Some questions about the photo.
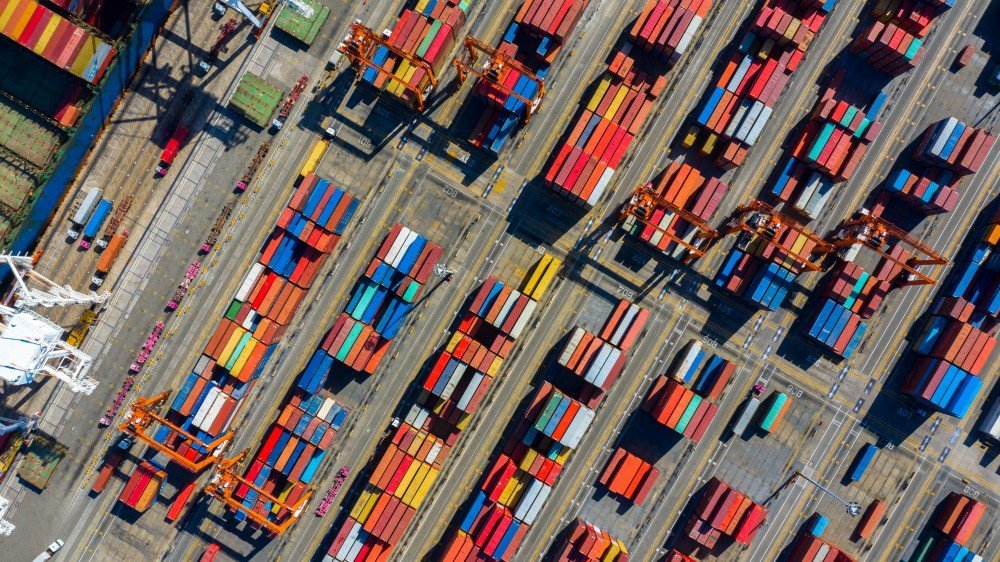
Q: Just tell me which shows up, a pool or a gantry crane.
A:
gantry crane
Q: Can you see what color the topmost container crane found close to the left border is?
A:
white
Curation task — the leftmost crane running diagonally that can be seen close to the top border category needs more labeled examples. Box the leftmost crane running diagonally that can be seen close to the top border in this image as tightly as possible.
[338,18,444,117]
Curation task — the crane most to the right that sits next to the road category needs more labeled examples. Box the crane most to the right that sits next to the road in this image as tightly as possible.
[820,215,951,291]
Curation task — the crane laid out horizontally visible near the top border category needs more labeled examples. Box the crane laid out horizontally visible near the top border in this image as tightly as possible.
[216,0,308,44]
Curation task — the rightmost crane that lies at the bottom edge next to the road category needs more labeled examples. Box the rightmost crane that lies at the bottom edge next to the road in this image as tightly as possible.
[200,443,320,537]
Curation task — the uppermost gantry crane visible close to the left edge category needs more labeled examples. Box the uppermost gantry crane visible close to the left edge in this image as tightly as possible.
[0,245,115,394]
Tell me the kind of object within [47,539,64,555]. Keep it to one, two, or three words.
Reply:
vehicle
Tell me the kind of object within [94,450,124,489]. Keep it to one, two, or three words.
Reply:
shipping container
